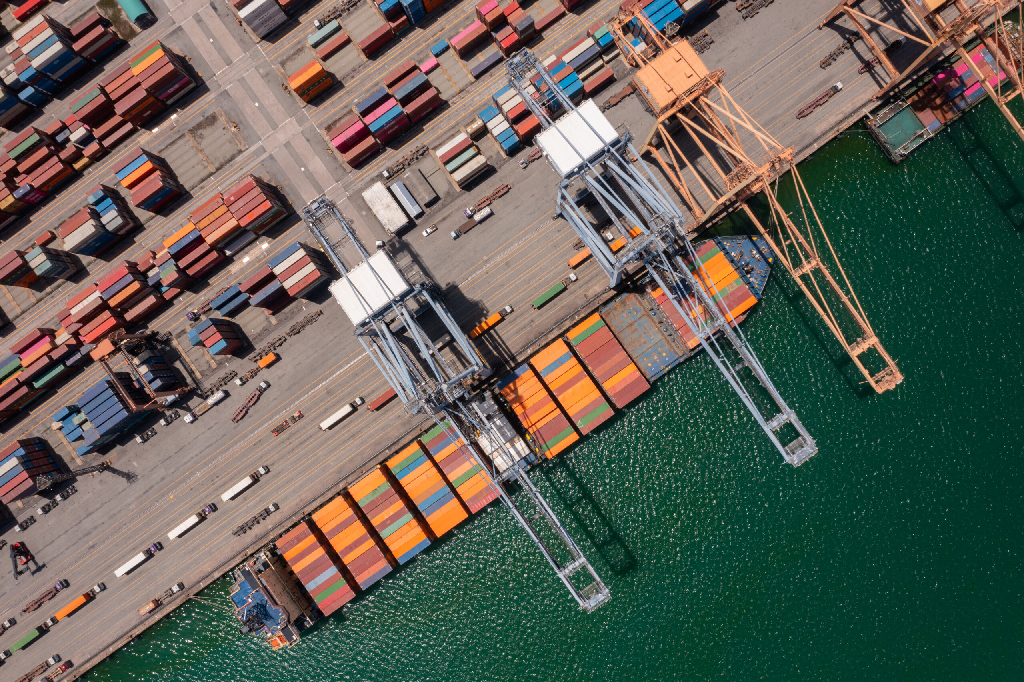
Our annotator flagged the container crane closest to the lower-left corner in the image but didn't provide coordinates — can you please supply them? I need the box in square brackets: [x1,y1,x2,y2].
[85,315,187,413]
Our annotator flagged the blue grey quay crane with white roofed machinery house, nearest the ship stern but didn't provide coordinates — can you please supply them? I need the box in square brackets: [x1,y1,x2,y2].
[295,192,609,609]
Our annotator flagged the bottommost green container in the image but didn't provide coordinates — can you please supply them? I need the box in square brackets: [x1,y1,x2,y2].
[14,620,51,648]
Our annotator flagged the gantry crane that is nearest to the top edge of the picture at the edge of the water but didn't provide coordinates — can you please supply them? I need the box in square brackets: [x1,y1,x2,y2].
[811,0,1024,134]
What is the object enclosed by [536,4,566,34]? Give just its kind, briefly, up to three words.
shipping container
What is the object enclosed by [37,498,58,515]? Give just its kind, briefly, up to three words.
vehicle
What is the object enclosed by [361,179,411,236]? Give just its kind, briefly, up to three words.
building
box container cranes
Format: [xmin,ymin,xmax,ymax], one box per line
[85,315,187,413]
[295,192,609,609]
[497,45,820,464]
[602,0,909,393]
[811,0,1024,134]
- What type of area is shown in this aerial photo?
port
